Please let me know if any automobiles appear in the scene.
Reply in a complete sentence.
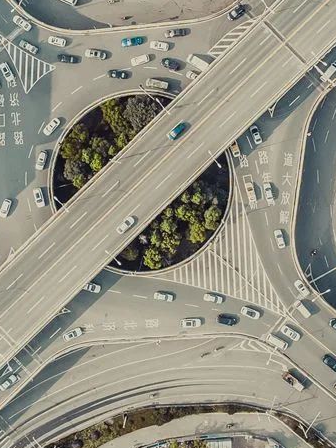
Yes, the photo shows an automobile.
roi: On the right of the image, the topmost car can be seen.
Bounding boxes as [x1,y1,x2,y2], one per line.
[228,3,246,19]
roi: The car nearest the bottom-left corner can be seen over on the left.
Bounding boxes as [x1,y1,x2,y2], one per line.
[1,373,20,390]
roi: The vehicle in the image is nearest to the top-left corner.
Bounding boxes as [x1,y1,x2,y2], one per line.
[12,16,30,31]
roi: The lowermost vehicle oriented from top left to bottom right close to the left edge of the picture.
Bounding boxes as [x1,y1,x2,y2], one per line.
[0,61,15,81]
